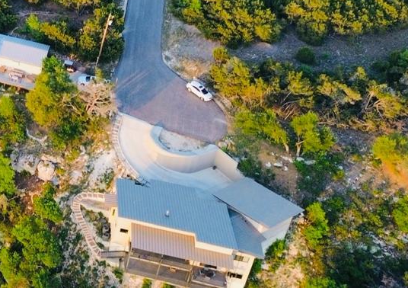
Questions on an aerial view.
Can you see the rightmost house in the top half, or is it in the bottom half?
bottom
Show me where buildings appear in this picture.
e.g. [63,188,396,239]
[0,36,45,102]
[102,177,303,288]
